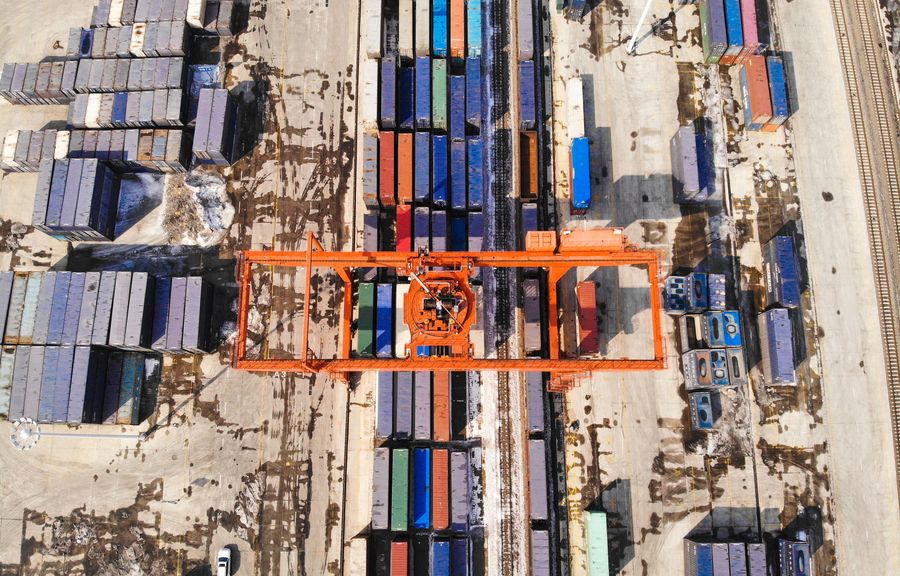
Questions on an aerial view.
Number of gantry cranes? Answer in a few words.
1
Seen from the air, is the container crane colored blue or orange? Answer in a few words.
orange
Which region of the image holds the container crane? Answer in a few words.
center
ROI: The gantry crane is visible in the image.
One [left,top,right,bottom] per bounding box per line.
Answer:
[224,229,672,387]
